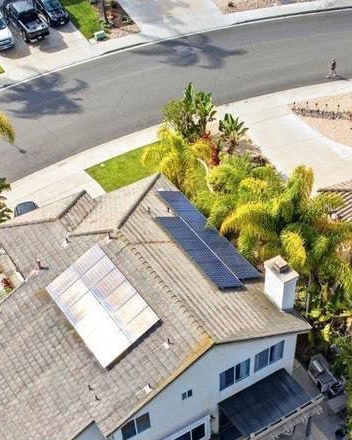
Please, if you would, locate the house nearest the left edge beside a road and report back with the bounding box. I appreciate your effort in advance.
[0,172,314,440]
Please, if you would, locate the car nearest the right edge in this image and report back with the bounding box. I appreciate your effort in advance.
[31,0,69,26]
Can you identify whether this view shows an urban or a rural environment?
urban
